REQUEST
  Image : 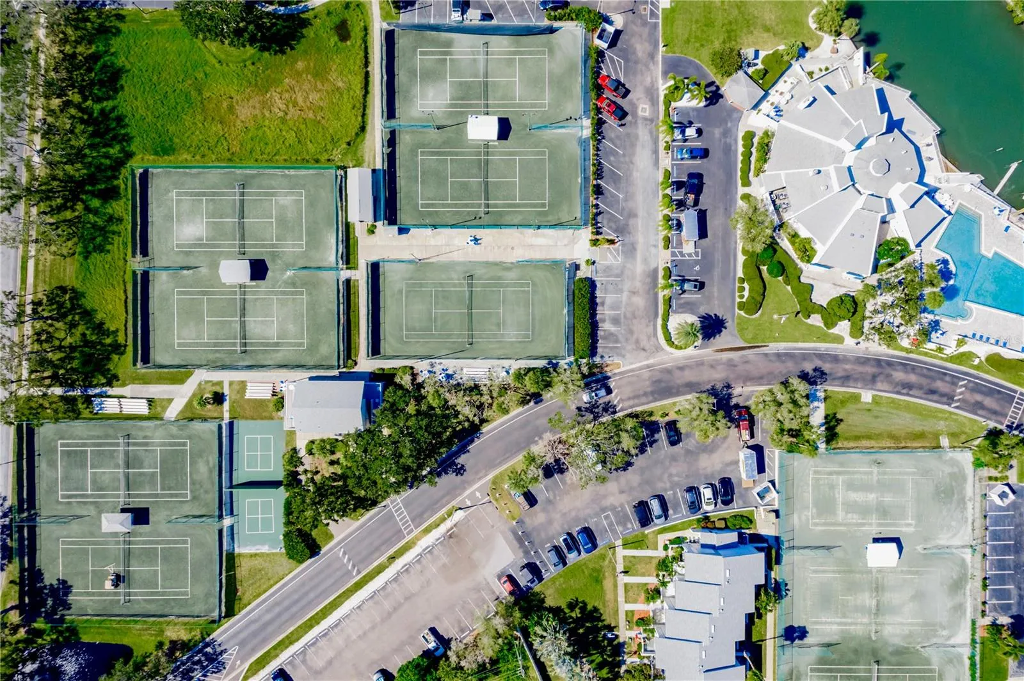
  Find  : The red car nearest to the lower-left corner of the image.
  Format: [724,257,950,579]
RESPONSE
[498,573,517,596]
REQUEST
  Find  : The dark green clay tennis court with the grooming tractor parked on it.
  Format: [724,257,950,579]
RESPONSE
[25,519,223,616]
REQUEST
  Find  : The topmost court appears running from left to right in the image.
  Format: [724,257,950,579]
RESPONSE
[385,32,581,128]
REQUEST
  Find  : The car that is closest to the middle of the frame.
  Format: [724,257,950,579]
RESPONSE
[581,385,610,403]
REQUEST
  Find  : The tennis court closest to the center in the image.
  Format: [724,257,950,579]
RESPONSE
[370,261,564,359]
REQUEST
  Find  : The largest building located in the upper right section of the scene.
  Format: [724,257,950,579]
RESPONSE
[752,47,947,279]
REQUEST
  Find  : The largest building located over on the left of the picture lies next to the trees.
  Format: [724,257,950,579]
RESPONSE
[282,382,387,432]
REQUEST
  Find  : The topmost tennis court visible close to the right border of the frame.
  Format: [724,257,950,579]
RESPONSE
[782,450,974,549]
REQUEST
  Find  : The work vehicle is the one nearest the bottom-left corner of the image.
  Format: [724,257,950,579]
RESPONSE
[107,567,121,586]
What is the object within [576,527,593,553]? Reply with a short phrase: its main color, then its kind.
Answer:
blue car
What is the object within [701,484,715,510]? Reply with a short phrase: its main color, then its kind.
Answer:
white car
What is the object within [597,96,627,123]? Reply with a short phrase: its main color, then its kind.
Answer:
red truck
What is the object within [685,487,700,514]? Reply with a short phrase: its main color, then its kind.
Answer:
blue car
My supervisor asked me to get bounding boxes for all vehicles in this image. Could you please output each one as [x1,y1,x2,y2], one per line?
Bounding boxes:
[736,409,752,442]
[518,564,538,586]
[598,73,628,100]
[546,545,564,570]
[685,487,700,514]
[635,501,649,527]
[676,146,704,160]
[649,496,665,523]
[581,385,610,403]
[719,478,734,505]
[498,573,517,596]
[560,533,577,558]
[450,0,462,21]
[512,490,532,514]
[374,667,393,681]
[666,420,679,446]
[674,127,699,139]
[676,281,700,291]
[684,173,700,208]
[701,484,715,510]
[576,527,593,553]
[107,567,121,586]
[597,96,627,123]
[419,628,445,657]
[468,9,481,22]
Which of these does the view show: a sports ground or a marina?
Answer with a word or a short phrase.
sports ground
